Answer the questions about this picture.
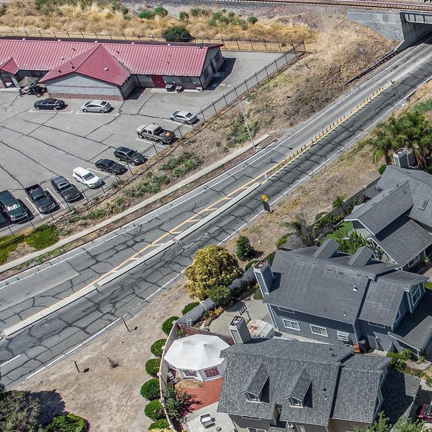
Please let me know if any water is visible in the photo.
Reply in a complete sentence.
No, no water is visible.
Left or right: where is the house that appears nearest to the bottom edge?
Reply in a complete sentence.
It is on the right.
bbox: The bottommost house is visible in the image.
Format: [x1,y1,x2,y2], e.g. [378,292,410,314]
[217,317,421,432]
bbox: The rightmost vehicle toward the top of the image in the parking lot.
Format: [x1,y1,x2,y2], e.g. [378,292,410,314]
[168,109,197,125]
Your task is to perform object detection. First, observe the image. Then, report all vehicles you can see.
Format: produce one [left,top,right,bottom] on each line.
[51,177,80,201]
[0,196,25,221]
[69,166,101,189]
[32,97,64,110]
[22,187,54,213]
[113,145,144,165]
[417,405,432,423]
[168,109,197,125]
[80,99,111,112]
[136,124,173,145]
[93,157,125,177]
